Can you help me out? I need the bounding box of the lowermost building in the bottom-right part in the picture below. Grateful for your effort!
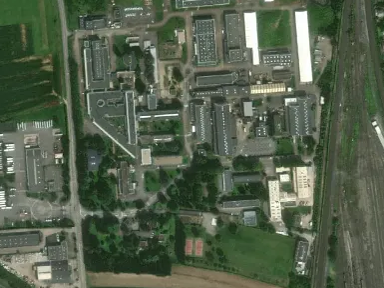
[296,242,309,272]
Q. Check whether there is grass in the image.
Yes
